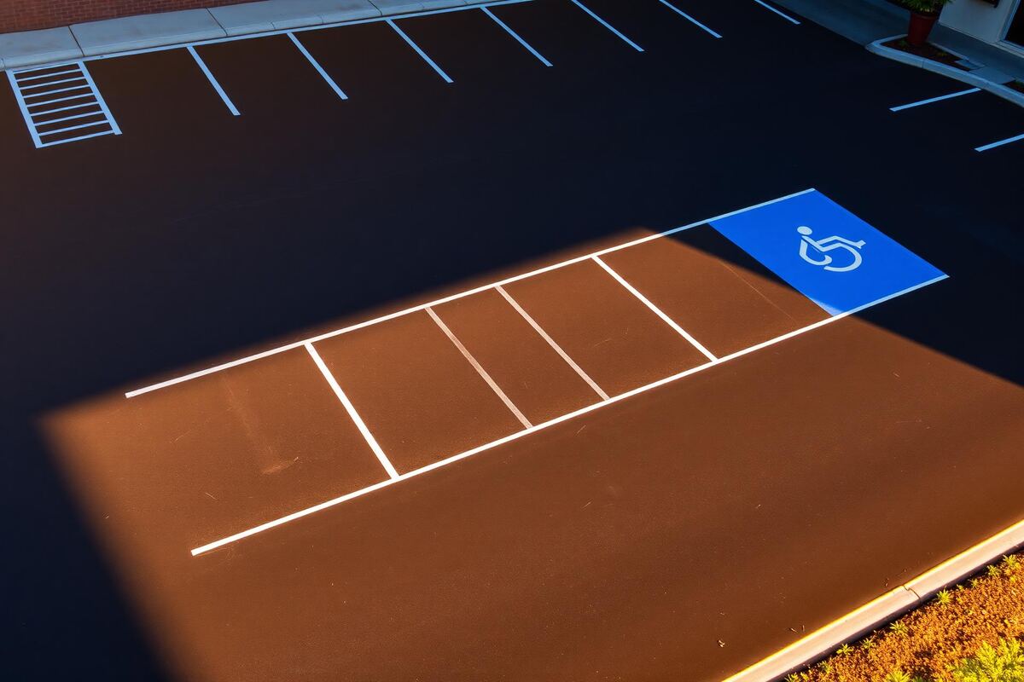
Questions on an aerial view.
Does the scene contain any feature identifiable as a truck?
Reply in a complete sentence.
No, no truck can be seen from above.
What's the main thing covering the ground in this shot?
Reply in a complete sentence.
The largest share of the image is taken up by paved ground.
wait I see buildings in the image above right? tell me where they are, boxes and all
[0,0,258,35]
[937,0,1024,58]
